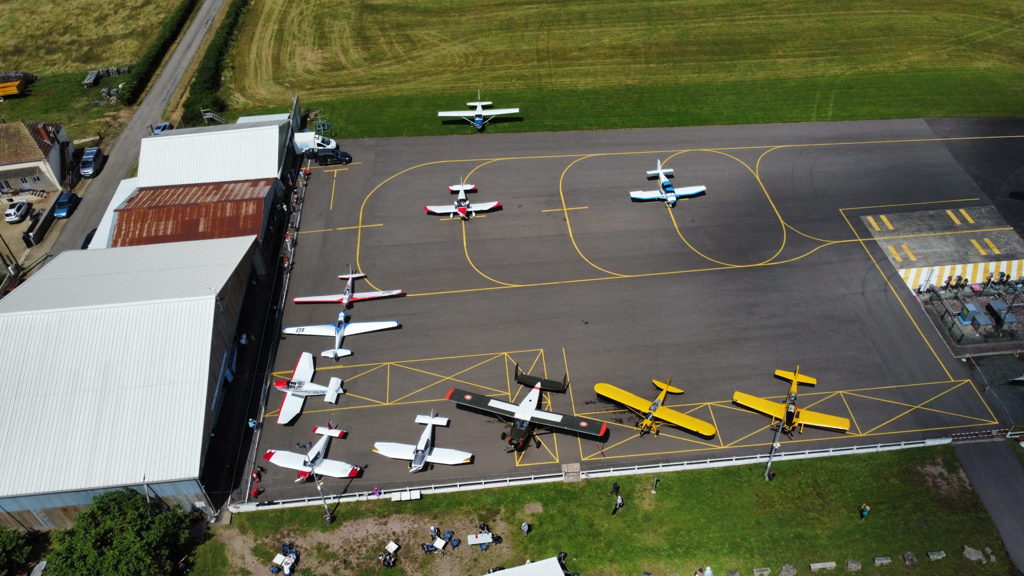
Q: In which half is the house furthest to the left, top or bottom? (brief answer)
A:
top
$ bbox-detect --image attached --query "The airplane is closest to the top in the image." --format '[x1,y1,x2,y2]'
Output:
[437,92,520,134]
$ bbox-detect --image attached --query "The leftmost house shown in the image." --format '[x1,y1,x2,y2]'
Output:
[0,120,90,203]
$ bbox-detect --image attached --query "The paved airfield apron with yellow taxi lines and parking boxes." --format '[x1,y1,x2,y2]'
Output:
[221,116,1024,512]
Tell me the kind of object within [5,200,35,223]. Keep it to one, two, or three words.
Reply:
car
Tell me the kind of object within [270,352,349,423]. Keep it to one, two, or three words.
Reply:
airplane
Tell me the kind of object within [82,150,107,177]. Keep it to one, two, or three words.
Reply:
vehicle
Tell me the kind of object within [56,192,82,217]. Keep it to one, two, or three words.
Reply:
car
